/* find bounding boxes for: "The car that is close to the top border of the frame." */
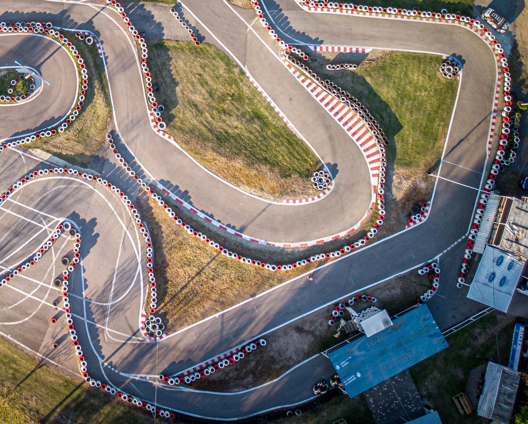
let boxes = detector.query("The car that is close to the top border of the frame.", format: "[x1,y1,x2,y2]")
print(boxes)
[476,6,509,33]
